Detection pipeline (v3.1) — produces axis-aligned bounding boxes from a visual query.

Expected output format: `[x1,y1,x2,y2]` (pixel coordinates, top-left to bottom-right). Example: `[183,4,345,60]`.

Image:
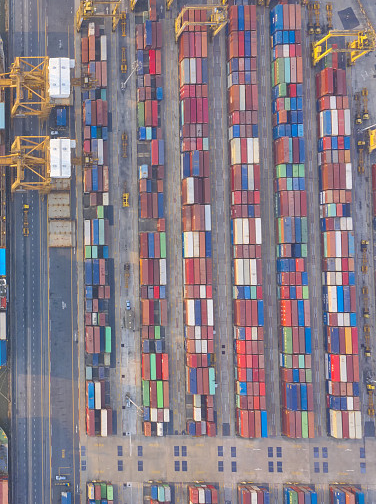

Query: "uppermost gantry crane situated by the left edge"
[0,53,112,131]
